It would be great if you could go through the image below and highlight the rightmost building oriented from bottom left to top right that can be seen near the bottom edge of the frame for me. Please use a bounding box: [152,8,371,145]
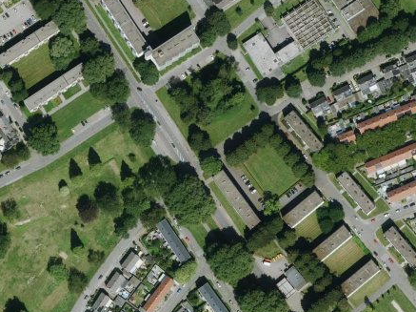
[340,260,382,300]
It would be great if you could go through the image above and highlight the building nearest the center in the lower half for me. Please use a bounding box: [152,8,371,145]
[212,170,259,232]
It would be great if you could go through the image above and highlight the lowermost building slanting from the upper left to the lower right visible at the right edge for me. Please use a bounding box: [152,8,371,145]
[382,224,416,269]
